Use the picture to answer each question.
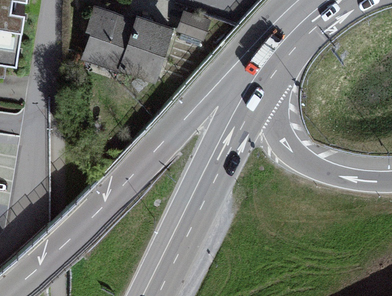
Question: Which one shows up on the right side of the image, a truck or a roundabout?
truck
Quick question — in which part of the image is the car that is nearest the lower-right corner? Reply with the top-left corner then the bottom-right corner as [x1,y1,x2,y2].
[225,152,240,174]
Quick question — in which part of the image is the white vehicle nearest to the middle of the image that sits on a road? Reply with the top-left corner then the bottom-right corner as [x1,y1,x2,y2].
[246,86,264,108]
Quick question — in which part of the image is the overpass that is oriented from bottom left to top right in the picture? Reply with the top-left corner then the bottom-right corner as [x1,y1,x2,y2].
[0,0,284,296]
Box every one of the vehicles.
[320,2,342,20]
[0,182,7,191]
[356,0,378,10]
[242,30,282,74]
[225,152,240,174]
[246,86,264,108]
[210,30,225,46]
